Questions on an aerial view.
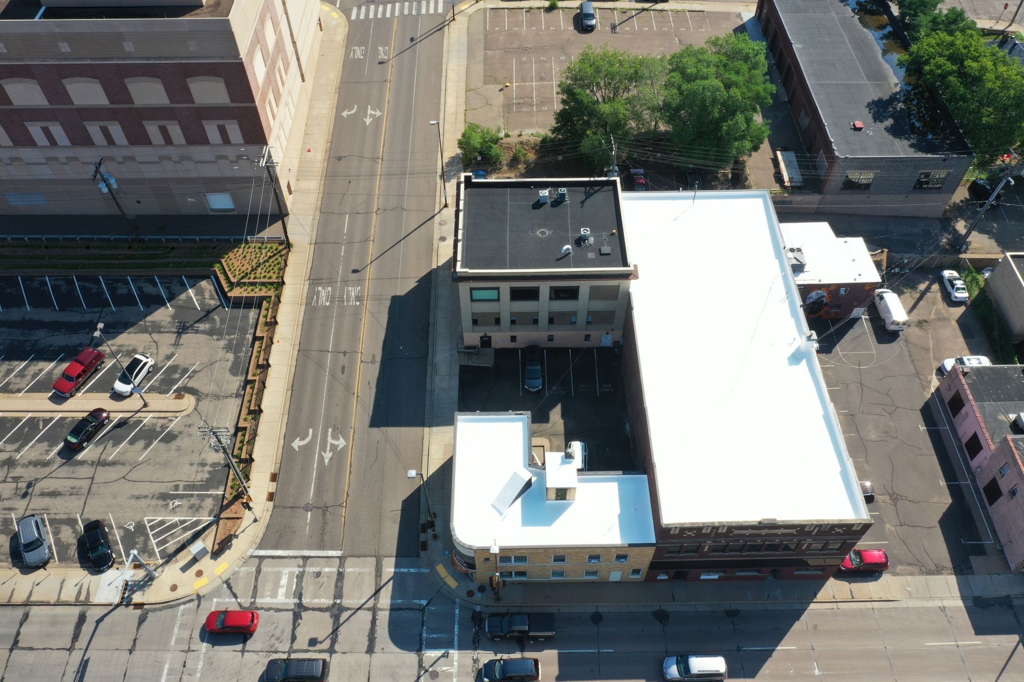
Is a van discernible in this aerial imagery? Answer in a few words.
Yes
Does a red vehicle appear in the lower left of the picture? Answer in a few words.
Yes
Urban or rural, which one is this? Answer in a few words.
urban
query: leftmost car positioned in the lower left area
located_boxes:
[14,512,52,566]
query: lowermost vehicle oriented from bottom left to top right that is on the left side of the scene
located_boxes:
[60,408,114,453]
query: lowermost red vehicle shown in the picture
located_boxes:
[202,606,263,638]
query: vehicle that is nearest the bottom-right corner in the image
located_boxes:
[836,548,895,580]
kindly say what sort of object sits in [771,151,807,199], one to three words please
trailer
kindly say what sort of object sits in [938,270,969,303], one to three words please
car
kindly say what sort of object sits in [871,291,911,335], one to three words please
van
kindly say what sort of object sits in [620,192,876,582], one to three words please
building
